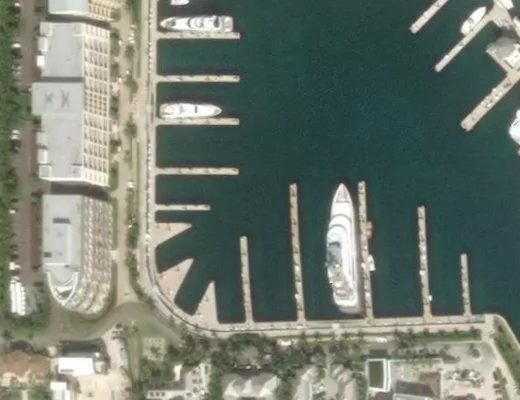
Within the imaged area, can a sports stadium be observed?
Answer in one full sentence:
No, this view has no sports stadium in it.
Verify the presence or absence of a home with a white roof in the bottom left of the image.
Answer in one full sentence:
Yes, in the bottom left of the image there is a home with a white roof.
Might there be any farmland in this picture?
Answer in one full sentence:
No, the picture contains no farmland.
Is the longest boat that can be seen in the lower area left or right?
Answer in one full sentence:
The longest boat that can be seen in the lower area is on the right side of the image.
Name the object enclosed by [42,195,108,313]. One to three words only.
building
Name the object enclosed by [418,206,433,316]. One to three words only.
pier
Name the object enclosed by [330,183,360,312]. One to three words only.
boat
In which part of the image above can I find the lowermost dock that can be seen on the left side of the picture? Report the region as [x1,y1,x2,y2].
[190,281,219,323]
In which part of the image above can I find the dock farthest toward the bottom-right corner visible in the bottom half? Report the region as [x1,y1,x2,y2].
[461,253,474,315]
